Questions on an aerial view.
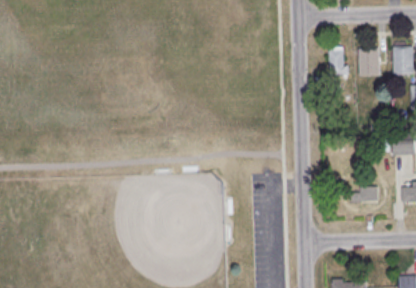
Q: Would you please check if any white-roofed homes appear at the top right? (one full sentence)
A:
Yes, the scene does show a white-roofed home at the top right.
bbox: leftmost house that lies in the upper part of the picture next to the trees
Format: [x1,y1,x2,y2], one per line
[328,46,350,78]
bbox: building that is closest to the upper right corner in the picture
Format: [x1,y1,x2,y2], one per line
[393,47,414,76]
